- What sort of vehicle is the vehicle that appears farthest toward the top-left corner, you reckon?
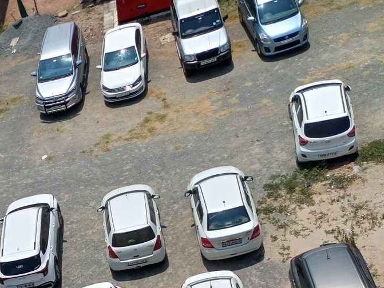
car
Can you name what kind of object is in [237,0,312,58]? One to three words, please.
car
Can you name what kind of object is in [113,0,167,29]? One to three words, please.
truck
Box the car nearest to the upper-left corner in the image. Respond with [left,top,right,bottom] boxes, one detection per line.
[28,17,89,113]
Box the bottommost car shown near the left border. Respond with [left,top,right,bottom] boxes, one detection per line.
[0,193,61,288]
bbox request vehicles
[93,24,150,103]
[283,77,357,164]
[237,0,312,58]
[93,178,165,271]
[166,0,232,74]
[28,17,89,113]
[282,248,371,288]
[113,0,167,29]
[0,193,61,288]
[179,161,259,260]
